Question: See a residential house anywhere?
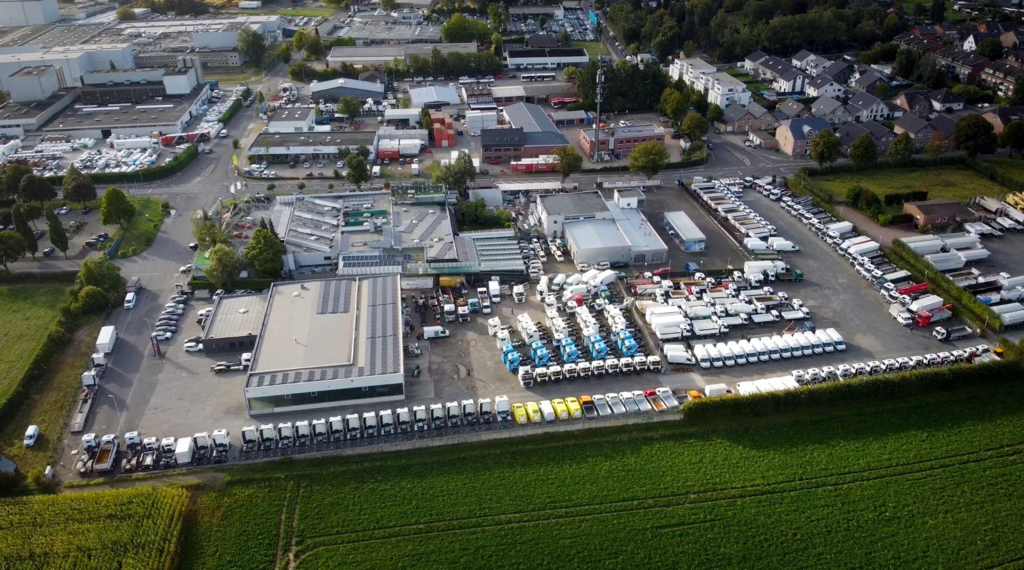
Yes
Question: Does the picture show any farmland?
Yes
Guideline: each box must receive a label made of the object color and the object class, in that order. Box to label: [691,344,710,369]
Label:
white vehicle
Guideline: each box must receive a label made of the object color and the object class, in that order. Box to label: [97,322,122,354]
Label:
white truck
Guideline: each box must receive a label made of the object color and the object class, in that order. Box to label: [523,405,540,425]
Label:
yellow vehicle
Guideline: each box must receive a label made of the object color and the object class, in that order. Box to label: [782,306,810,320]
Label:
white vehicle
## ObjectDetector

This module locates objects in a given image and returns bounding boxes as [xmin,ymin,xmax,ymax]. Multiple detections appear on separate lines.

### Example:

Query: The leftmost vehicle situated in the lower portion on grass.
[19,422,46,446]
